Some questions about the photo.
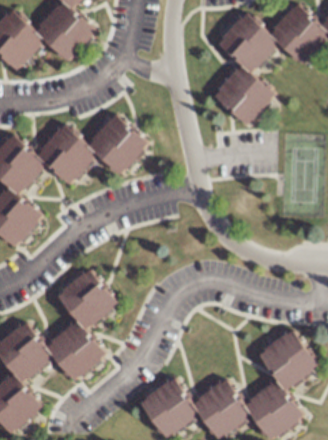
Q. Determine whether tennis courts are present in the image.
Yes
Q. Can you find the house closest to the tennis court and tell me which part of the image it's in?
top right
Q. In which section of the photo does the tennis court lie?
right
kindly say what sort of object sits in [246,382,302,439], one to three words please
house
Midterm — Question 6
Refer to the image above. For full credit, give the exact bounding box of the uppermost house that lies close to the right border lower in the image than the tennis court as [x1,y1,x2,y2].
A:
[260,331,317,389]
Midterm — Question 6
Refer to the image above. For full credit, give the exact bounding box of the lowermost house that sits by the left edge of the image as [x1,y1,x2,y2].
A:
[0,374,40,432]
